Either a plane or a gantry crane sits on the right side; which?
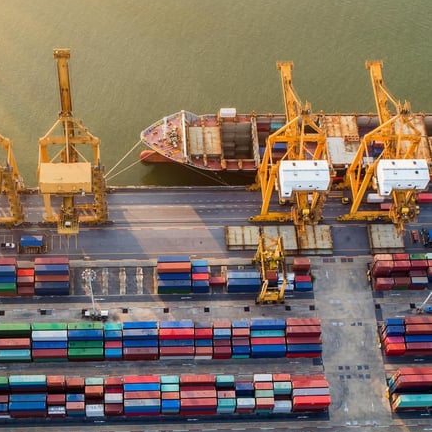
gantry crane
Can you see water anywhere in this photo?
Yes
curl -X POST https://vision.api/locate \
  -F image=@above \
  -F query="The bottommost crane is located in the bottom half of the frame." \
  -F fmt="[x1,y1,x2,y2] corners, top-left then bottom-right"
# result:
[247,235,295,306]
